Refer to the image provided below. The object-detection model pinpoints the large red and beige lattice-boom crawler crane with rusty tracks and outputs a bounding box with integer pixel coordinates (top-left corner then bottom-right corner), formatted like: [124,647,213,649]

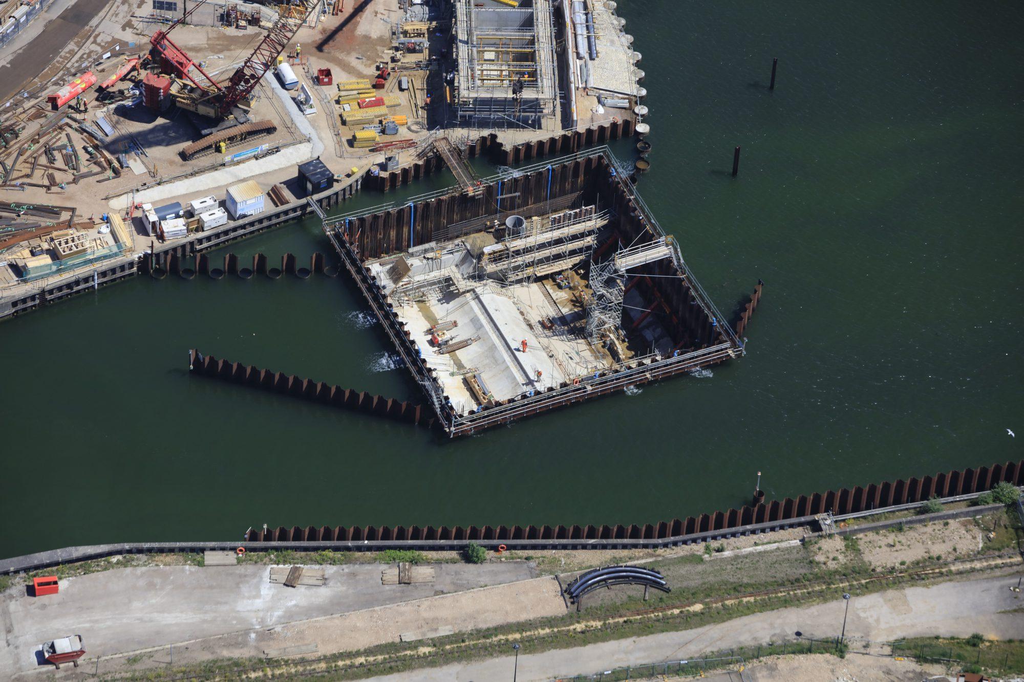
[141,0,321,155]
